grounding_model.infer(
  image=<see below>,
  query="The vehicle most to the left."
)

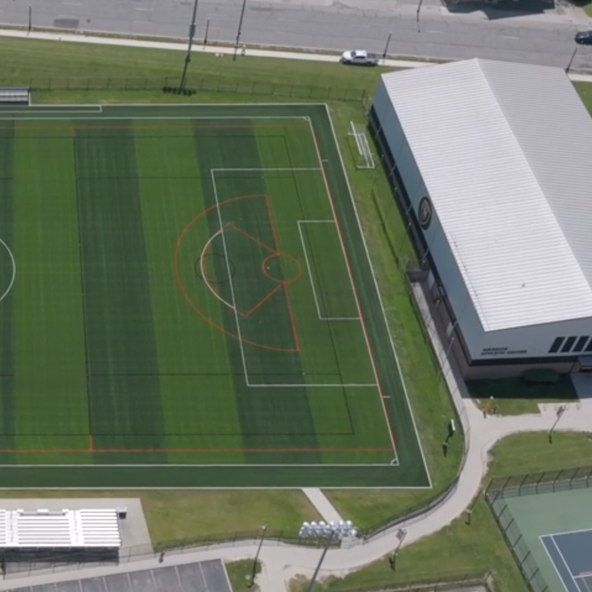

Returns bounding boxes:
[341,47,379,65]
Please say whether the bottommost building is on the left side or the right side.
right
